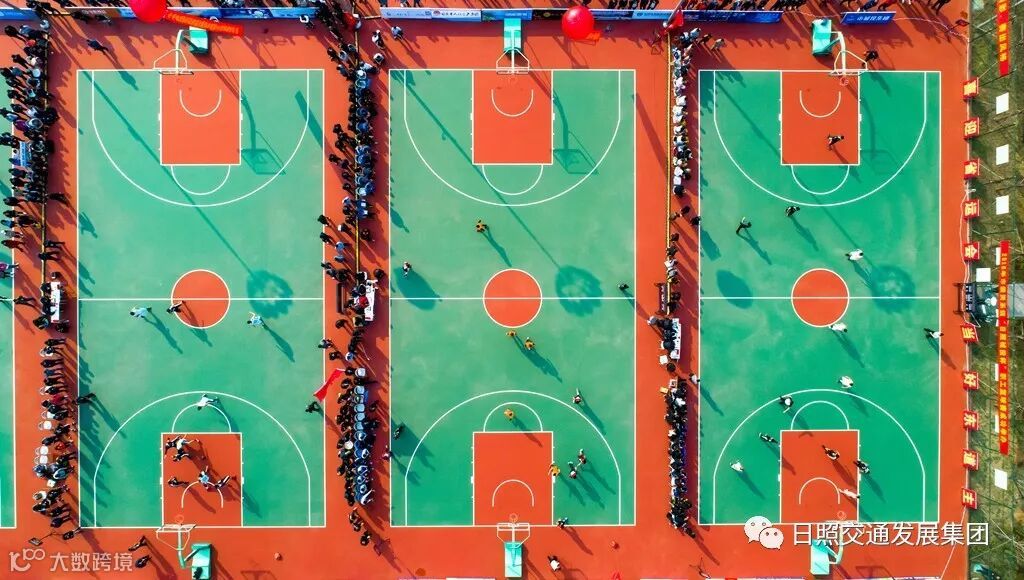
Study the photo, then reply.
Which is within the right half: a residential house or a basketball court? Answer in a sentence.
You can see a basketball court within the right half.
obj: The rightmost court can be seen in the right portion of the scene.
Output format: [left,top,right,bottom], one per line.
[698,70,941,525]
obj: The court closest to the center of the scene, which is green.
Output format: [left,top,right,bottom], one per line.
[390,69,635,527]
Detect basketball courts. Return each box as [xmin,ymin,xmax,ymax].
[0,69,14,529]
[76,69,326,529]
[390,69,635,527]
[698,70,941,525]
